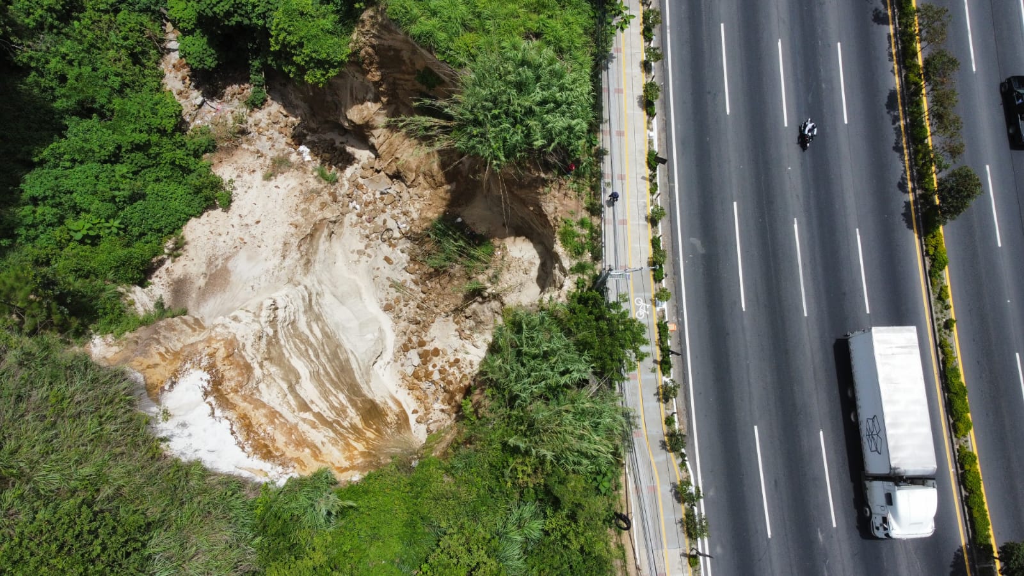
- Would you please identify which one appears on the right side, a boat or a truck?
truck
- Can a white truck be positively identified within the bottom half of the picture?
Yes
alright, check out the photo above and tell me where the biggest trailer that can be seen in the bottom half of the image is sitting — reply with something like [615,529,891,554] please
[846,327,935,473]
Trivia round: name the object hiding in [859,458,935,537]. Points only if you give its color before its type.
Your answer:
white truck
